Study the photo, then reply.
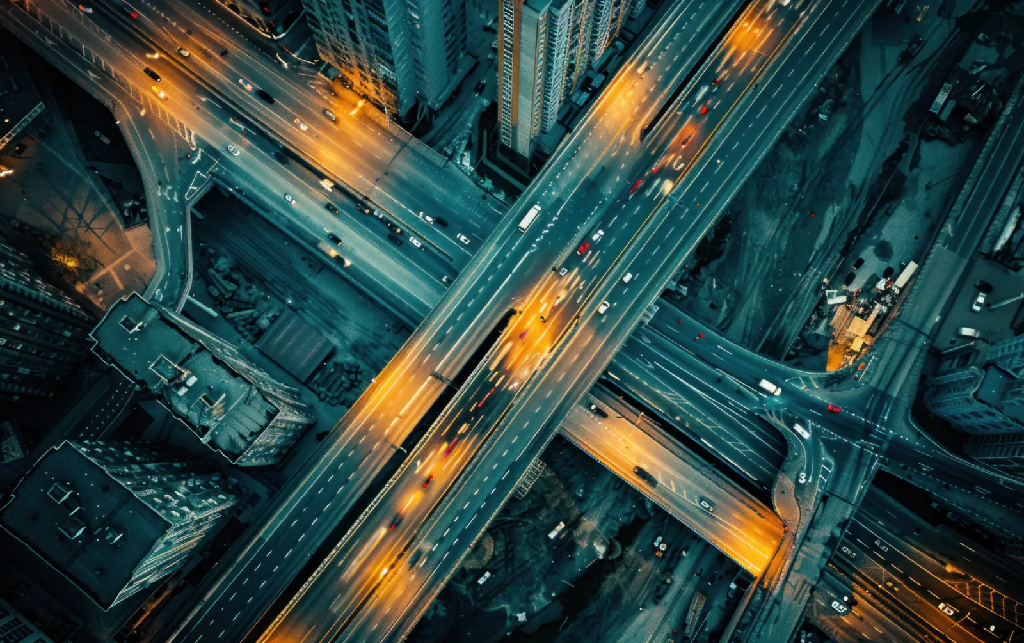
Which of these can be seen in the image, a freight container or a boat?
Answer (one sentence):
I can see a freight container in this picture.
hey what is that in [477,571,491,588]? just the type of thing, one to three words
vehicle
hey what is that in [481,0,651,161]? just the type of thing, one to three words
building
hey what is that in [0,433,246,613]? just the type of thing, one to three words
building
